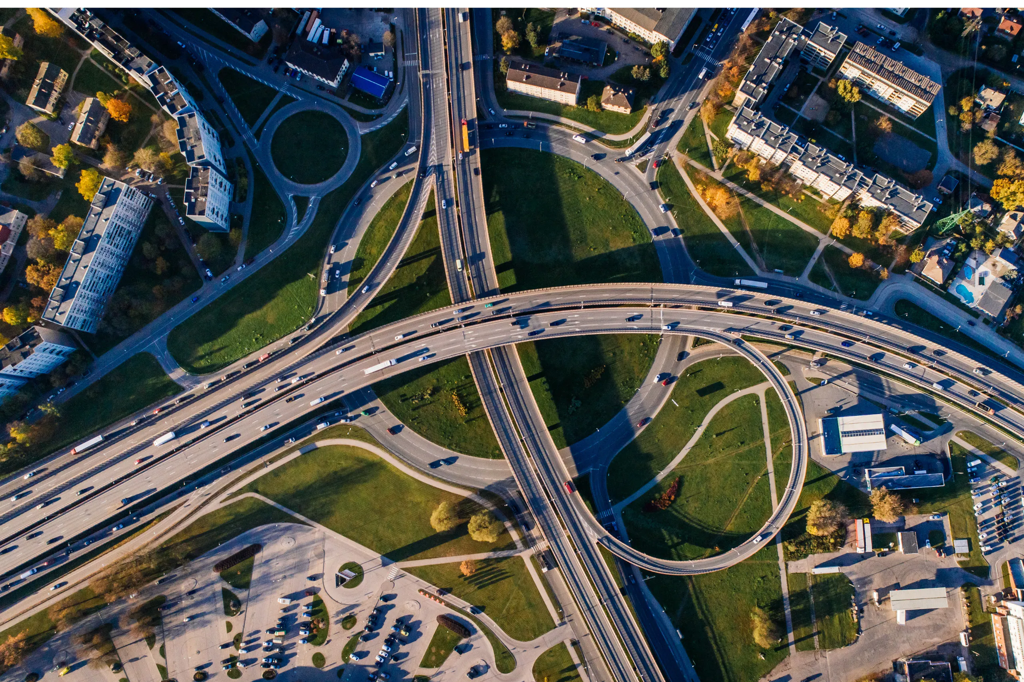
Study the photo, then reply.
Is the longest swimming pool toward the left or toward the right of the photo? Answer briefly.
right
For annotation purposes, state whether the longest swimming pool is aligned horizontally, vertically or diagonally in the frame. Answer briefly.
diagonally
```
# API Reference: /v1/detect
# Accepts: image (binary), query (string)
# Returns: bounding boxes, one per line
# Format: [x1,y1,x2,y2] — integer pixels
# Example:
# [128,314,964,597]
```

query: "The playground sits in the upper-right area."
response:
[805,94,830,122]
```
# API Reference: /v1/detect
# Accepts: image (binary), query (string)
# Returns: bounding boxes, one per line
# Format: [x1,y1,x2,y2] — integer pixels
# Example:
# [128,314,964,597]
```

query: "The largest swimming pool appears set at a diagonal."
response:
[955,283,975,304]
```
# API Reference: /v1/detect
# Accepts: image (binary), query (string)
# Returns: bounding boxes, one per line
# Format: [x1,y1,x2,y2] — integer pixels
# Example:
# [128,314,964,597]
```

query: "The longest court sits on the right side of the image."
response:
[873,132,931,172]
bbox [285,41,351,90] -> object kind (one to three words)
house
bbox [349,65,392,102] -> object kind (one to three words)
building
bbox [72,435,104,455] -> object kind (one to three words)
vehicle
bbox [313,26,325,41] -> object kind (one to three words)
vehicle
